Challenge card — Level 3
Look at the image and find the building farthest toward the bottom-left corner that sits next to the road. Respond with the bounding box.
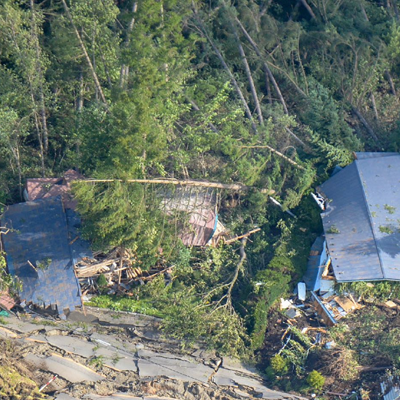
[1,194,92,322]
